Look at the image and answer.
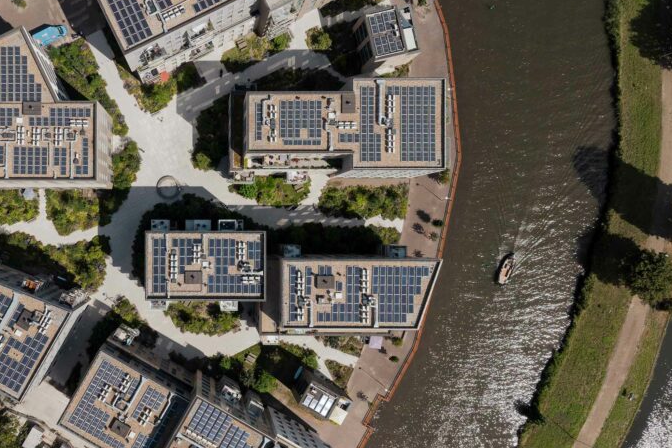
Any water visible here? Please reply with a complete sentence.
Yes, some water is visible.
